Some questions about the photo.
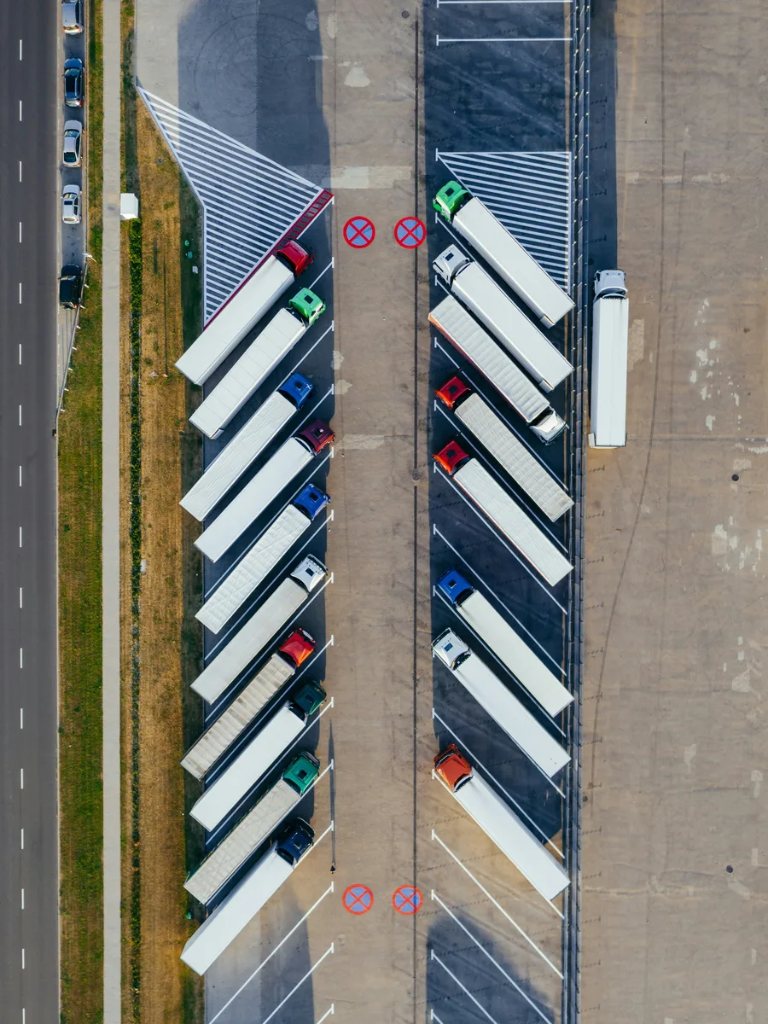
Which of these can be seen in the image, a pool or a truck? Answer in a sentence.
Looking from above, you can make out a truck.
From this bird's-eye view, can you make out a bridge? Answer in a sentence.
No, there appears to be no bridge in this shot.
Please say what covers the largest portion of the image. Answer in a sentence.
The largest share of the image is taken up by paved ground.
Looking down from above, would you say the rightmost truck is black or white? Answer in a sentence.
The rightmost truck is white.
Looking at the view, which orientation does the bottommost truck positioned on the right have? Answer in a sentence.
What the image shows is the bottommost truck positioned on the right lying at an angle.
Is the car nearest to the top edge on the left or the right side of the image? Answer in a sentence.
You can find the car nearest to the top edge on the left side of the picture.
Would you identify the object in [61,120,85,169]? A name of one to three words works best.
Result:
car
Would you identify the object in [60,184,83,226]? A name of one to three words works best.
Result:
car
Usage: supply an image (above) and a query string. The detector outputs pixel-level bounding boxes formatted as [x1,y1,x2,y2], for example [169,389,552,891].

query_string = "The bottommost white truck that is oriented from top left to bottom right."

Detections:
[433,743,571,900]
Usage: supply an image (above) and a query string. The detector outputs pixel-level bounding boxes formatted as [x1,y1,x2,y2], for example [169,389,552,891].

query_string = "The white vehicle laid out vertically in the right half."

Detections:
[588,269,628,448]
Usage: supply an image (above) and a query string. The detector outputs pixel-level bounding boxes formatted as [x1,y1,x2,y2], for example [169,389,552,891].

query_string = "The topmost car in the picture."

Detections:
[63,0,84,36]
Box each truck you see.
[194,416,335,563]
[179,627,315,782]
[181,370,318,521]
[428,295,567,446]
[184,748,323,904]
[588,269,628,448]
[180,816,316,977]
[196,481,331,634]
[432,178,575,330]
[432,243,574,392]
[434,372,574,522]
[433,437,572,586]
[433,743,571,900]
[431,626,571,777]
[435,566,574,717]
[191,554,329,704]
[175,235,315,387]
[189,677,327,832]
[189,288,326,441]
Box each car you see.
[59,263,84,312]
[61,120,85,169]
[63,0,84,36]
[60,184,83,226]
[61,59,85,109]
